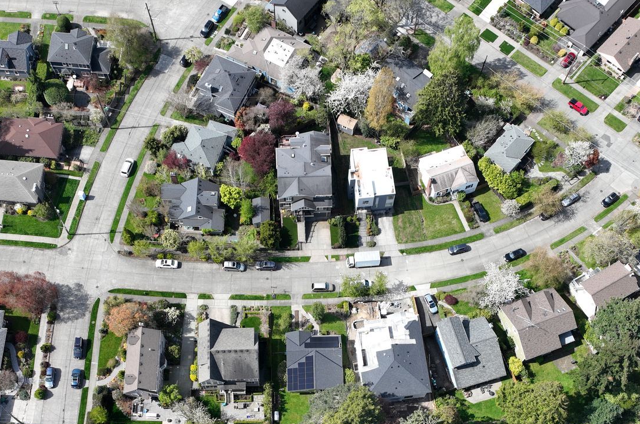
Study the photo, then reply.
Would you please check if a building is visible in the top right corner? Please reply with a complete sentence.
Yes, a building can be seen in the top right corner.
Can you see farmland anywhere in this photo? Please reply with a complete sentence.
No, there is no farmland in the image.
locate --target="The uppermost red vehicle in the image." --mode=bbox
[560,48,576,69]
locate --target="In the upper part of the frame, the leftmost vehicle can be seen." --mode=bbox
[120,156,135,180]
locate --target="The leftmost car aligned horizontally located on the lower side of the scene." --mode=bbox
[154,258,179,270]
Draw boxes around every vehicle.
[560,48,576,69]
[604,191,622,208]
[69,366,82,391]
[344,248,386,267]
[472,197,492,224]
[211,0,231,24]
[445,243,471,257]
[564,95,591,117]
[559,192,582,208]
[254,260,278,272]
[178,54,192,70]
[45,365,56,390]
[310,280,336,293]
[595,194,609,210]
[200,18,217,39]
[71,336,85,360]
[422,291,439,315]
[503,247,528,263]
[120,156,135,180]
[220,260,246,272]
[154,258,179,270]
